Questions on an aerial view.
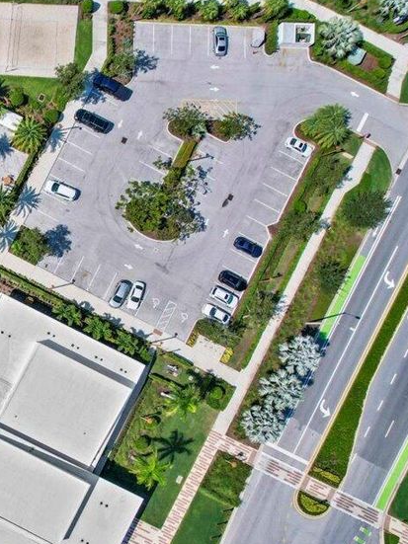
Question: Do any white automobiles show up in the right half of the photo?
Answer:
Yes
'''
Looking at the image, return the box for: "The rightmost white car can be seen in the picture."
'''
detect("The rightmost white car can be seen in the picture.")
[283,135,313,155]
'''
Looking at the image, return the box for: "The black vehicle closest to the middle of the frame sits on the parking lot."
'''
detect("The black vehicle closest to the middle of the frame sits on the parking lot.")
[218,268,248,291]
